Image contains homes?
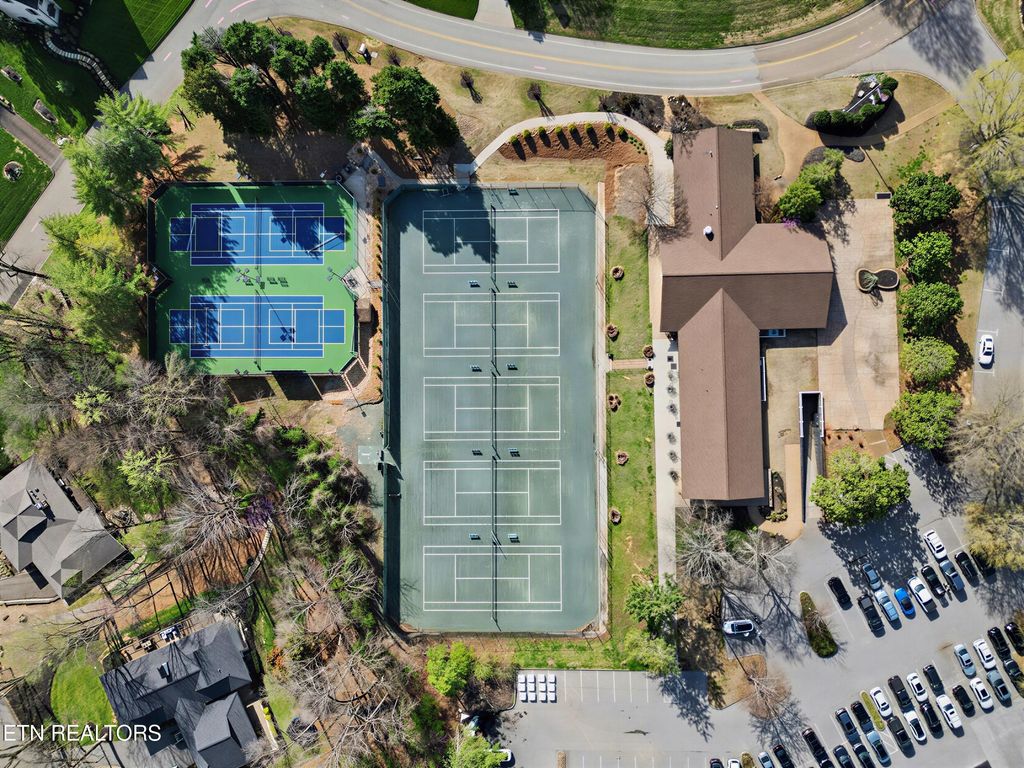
Yes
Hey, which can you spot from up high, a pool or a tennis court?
tennis court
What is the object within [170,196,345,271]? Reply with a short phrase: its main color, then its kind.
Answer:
blue tennis court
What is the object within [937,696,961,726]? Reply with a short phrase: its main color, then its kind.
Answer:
white car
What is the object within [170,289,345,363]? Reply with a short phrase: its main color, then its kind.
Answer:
blue tennis court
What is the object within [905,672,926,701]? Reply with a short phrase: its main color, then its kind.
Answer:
white car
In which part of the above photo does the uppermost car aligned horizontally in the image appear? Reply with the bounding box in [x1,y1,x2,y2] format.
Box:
[724,620,753,634]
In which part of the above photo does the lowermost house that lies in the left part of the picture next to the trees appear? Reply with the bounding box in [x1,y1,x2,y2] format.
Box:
[99,613,264,768]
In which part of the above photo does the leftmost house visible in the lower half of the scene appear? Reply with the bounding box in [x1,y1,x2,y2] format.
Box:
[0,455,133,600]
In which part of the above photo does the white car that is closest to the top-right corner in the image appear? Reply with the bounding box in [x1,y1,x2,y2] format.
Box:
[977,336,993,365]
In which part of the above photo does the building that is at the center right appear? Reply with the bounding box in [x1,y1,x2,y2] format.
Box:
[660,126,834,500]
